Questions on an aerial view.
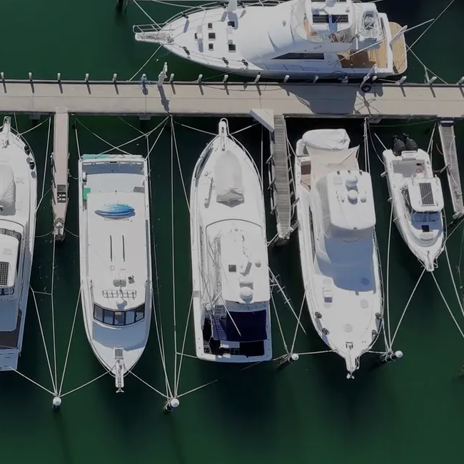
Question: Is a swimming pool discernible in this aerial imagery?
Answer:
No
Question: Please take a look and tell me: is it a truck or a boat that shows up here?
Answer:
boat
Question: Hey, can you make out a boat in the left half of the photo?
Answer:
Yes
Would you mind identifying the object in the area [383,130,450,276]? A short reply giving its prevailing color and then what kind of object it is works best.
white boat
